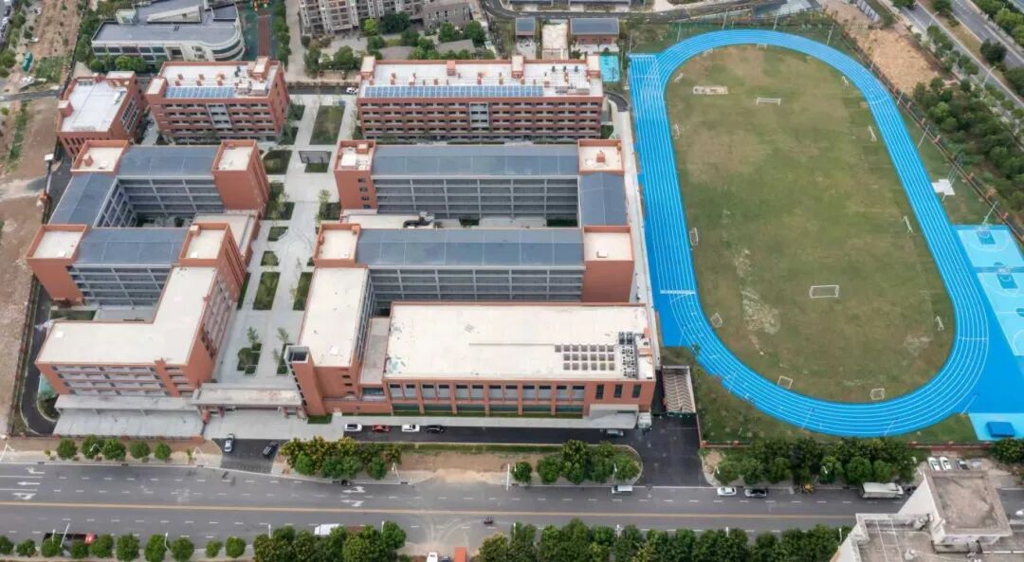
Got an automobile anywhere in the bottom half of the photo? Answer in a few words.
Yes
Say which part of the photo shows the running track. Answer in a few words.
right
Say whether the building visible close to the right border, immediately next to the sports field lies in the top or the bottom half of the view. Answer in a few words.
bottom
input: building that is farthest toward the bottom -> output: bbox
[835,472,1024,562]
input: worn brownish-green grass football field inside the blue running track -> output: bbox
[666,43,956,402]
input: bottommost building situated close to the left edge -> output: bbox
[34,263,244,399]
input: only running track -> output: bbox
[628,29,994,435]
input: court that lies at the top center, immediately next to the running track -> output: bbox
[600,52,623,85]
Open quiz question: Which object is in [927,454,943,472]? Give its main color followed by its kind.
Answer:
white car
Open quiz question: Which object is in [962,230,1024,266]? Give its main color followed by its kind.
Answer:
blue basketball court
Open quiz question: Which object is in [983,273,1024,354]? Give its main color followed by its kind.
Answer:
blue basketball court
